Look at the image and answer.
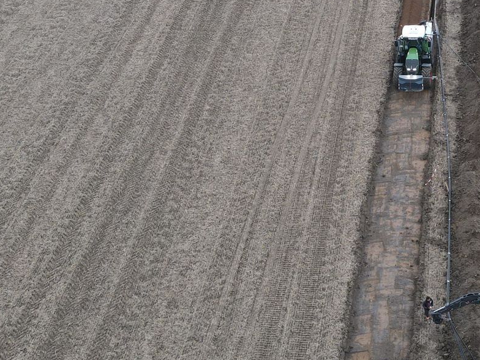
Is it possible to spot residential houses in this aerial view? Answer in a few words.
No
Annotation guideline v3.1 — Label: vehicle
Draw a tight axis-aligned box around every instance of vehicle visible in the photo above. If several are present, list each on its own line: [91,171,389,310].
[394,22,449,97]
[434,289,480,332]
